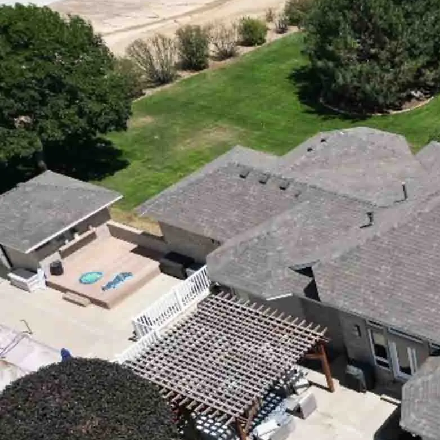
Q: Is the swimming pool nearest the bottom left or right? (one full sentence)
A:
The swimming pool nearest the bottom is on the left side of the image.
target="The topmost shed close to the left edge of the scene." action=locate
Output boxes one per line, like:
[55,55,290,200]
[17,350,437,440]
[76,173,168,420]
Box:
[0,167,125,269]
